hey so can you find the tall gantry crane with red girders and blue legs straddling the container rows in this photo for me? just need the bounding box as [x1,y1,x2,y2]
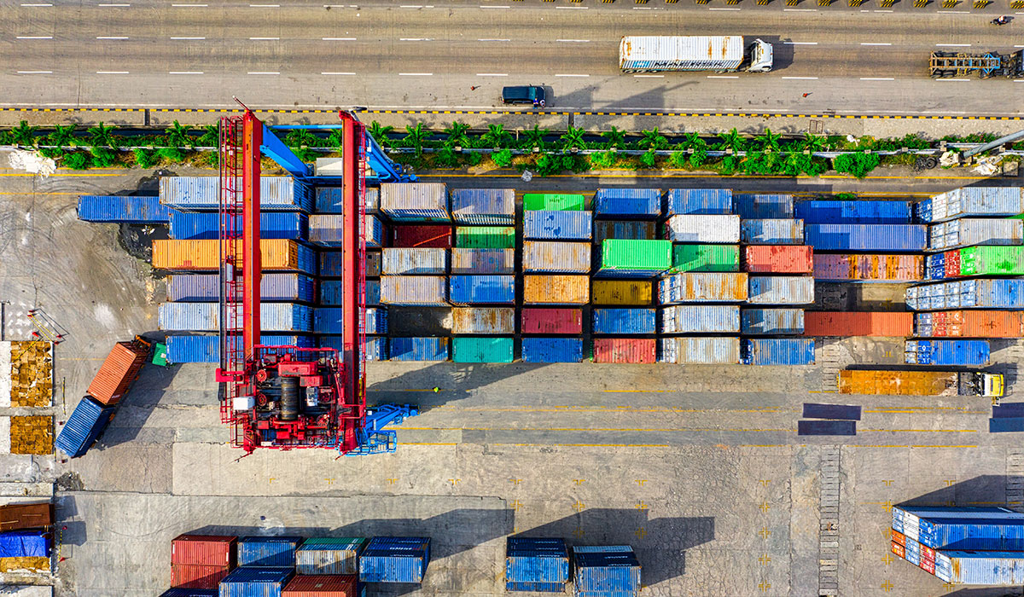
[214,90,426,464]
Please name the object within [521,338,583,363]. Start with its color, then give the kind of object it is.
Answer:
blue shipping container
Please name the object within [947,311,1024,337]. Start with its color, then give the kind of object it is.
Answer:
orange shipping container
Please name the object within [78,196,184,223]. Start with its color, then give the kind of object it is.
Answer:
blue shipping container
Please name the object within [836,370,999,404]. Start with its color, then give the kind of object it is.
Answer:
orange truck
